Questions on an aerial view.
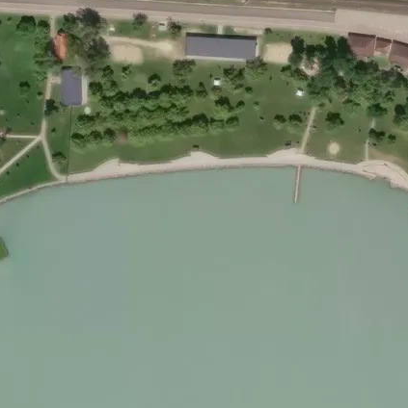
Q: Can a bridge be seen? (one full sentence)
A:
No, there isn't any bridge down there.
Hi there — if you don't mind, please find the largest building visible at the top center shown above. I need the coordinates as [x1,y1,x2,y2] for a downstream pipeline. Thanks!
[185,35,258,59]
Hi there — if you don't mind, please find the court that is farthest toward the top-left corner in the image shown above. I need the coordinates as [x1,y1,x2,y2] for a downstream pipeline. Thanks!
[111,43,142,63]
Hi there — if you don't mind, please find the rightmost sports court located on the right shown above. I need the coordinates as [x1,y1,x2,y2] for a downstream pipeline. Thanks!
[264,42,293,63]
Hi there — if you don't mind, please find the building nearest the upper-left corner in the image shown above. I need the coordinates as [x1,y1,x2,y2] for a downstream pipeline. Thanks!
[54,32,68,61]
